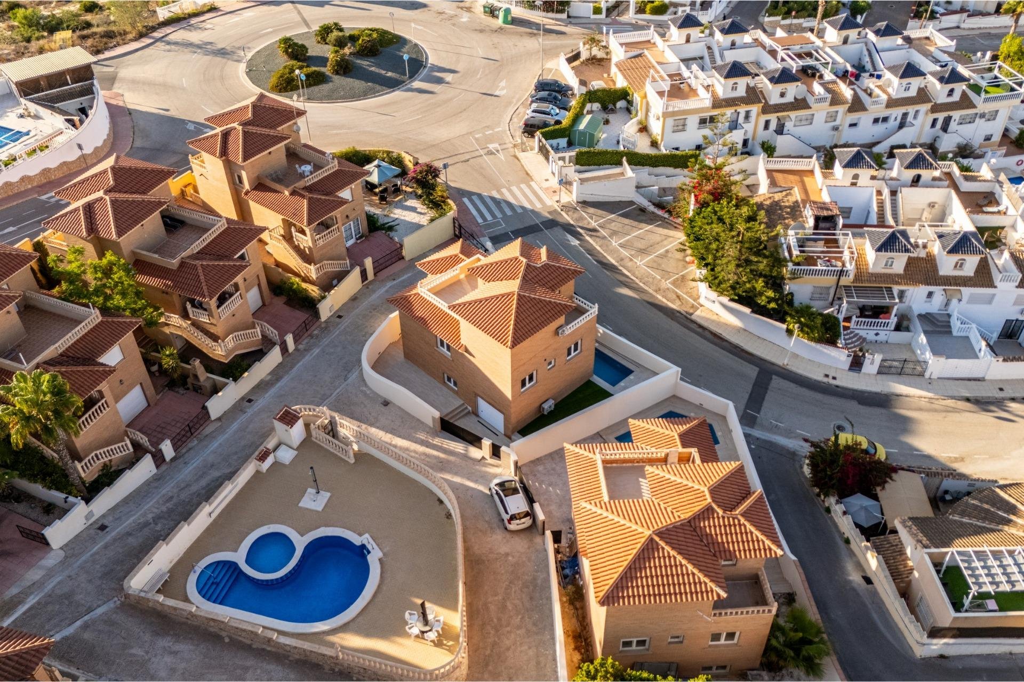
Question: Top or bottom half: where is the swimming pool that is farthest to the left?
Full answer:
You can find the swimming pool that is farthest to the left in the top half.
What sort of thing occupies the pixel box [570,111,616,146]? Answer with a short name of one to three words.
shed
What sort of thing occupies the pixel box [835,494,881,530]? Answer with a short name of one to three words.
umbrella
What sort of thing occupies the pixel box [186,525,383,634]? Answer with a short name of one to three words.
swimming pool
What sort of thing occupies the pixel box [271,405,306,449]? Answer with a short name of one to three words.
building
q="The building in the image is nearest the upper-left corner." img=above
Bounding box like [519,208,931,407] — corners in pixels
[0,46,113,194]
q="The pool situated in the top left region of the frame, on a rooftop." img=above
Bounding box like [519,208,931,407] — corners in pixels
[0,125,28,154]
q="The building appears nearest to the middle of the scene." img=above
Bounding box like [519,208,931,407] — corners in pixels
[384,235,598,435]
